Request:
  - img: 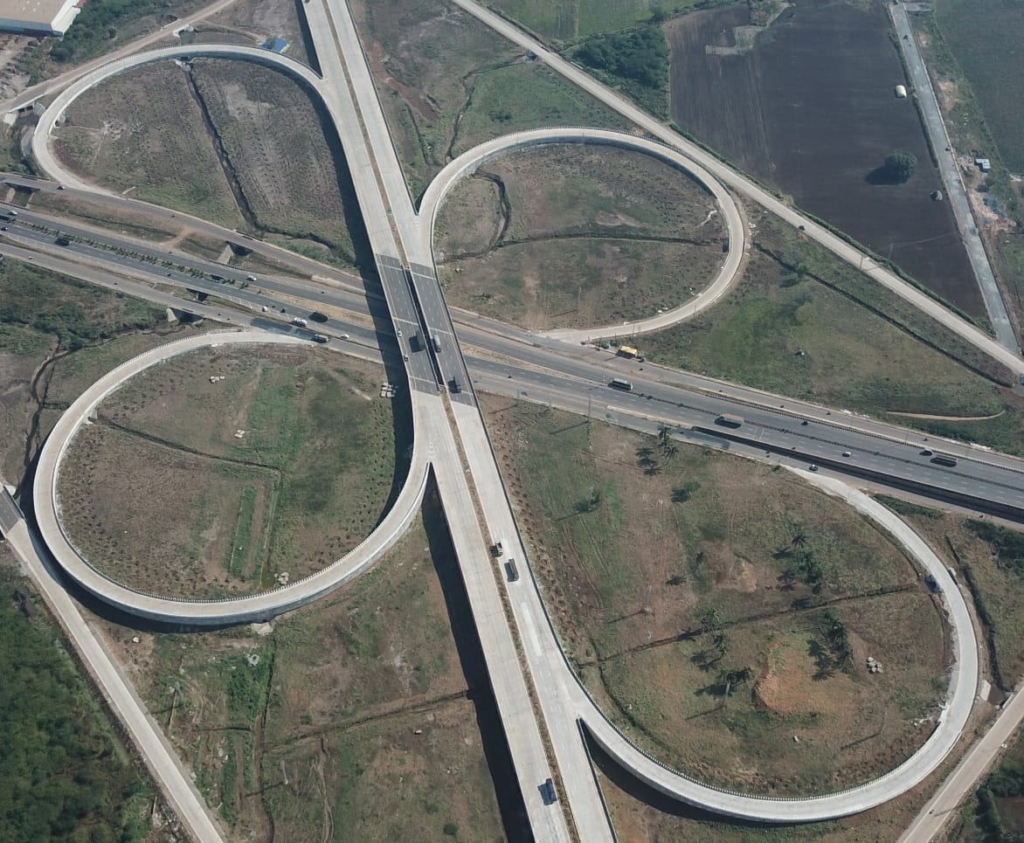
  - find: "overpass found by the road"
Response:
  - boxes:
[301,0,618,843]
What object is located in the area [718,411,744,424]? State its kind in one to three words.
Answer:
vehicle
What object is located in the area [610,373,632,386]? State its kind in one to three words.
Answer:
vehicle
